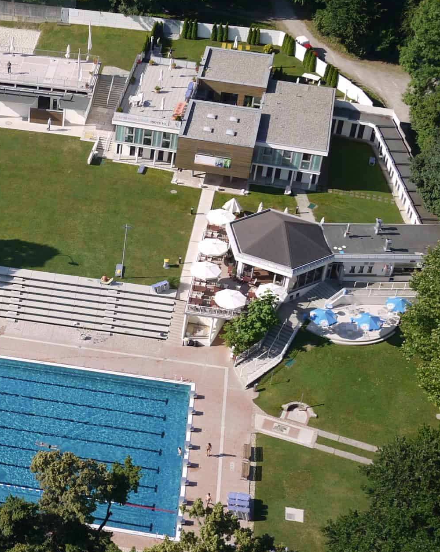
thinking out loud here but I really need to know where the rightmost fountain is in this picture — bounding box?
[279,390,317,428]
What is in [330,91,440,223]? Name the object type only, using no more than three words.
building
